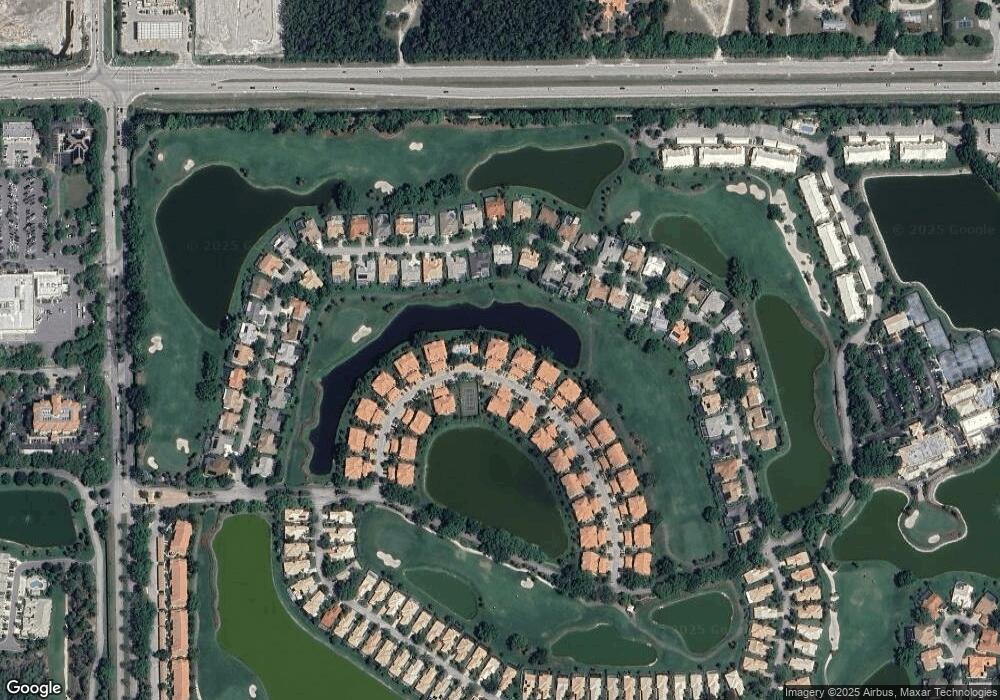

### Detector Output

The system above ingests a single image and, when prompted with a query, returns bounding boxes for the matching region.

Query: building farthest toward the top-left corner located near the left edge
[3,122,32,140]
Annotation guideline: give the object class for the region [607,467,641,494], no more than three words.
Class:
house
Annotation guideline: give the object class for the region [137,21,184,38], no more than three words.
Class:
building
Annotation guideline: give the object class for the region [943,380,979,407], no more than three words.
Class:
building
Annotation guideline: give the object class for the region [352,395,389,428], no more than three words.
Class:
house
